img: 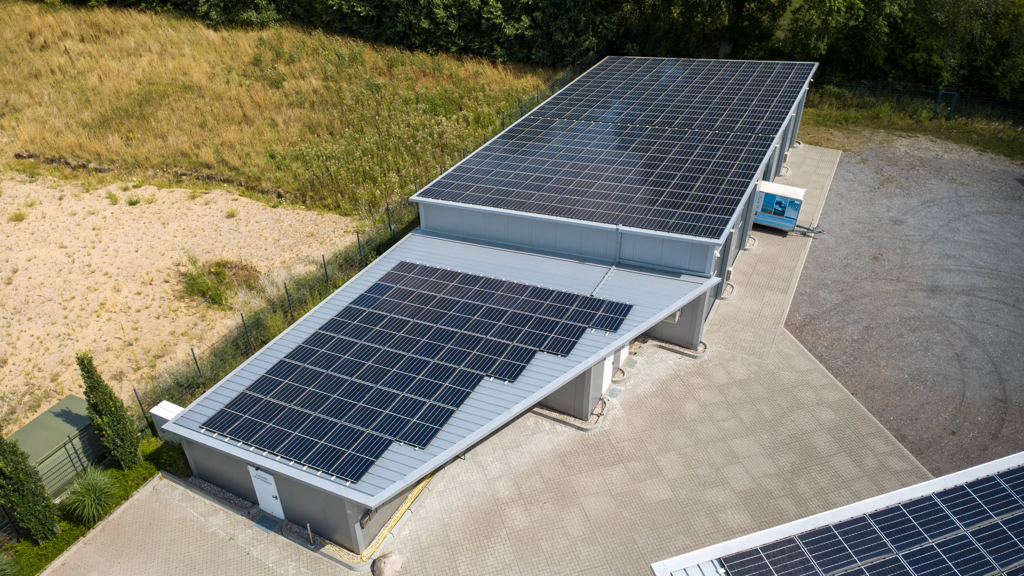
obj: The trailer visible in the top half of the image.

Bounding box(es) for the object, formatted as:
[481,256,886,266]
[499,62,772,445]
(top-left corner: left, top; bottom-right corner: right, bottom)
[755,180,830,236]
